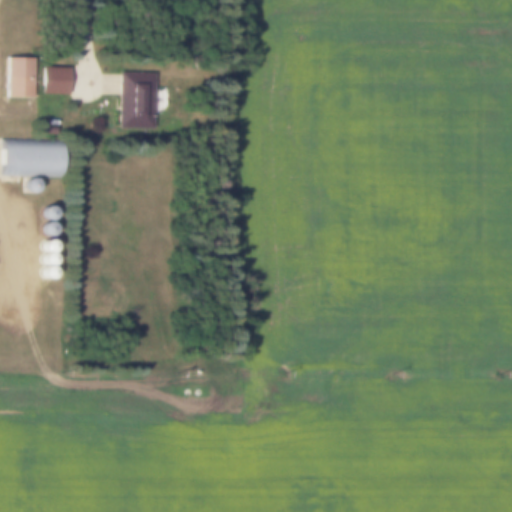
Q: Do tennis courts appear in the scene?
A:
No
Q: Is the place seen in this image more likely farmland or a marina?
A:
farmland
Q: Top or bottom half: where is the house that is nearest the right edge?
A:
top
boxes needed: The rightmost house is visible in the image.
[116,70,168,128]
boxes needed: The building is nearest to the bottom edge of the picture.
[2,140,68,178]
